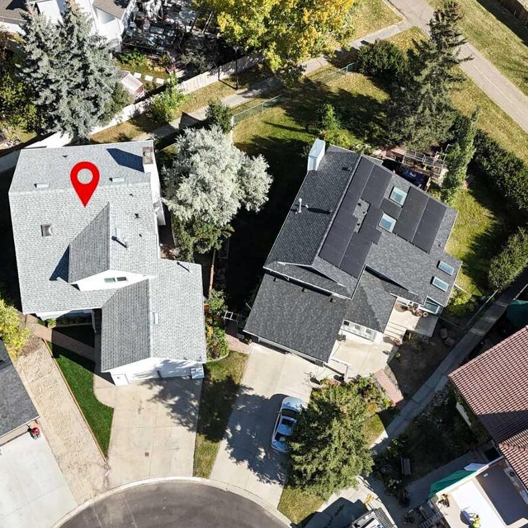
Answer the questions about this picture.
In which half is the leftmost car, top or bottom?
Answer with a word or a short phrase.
bottom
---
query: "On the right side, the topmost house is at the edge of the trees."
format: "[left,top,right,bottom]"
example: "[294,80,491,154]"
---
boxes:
[242,138,463,374]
